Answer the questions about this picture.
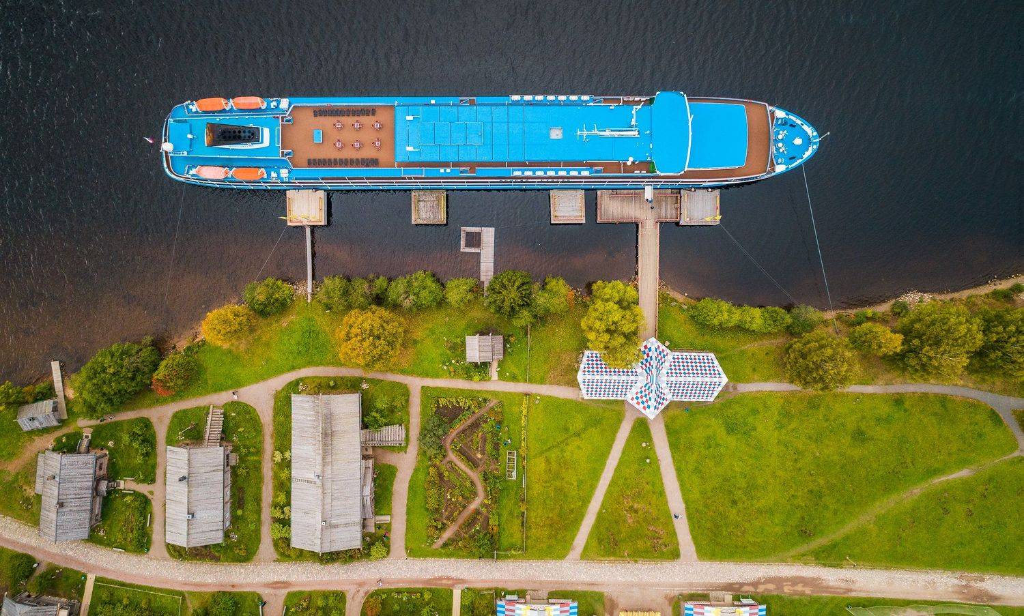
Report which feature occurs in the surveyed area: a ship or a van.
ship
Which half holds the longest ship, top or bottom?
top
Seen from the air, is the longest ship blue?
Yes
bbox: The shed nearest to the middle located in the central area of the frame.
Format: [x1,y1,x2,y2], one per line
[466,332,503,368]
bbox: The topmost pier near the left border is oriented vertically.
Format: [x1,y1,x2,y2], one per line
[51,361,68,419]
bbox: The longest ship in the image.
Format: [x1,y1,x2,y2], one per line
[148,92,826,190]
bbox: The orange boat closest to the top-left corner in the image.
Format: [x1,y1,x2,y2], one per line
[195,97,230,111]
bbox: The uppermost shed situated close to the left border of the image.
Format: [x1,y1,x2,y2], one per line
[14,399,65,432]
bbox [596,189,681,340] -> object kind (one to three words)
pier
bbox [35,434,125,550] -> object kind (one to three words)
house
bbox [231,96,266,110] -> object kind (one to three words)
boat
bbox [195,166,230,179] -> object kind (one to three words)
boat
